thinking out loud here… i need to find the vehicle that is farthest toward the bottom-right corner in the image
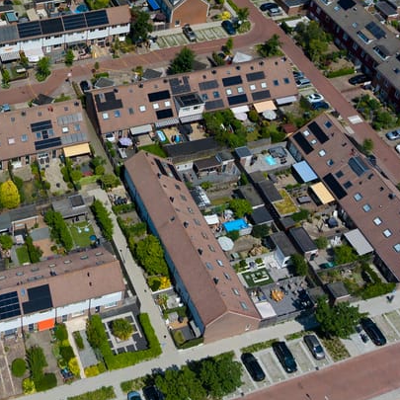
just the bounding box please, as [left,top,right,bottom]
[361,320,388,347]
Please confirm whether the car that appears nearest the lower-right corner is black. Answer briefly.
Yes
